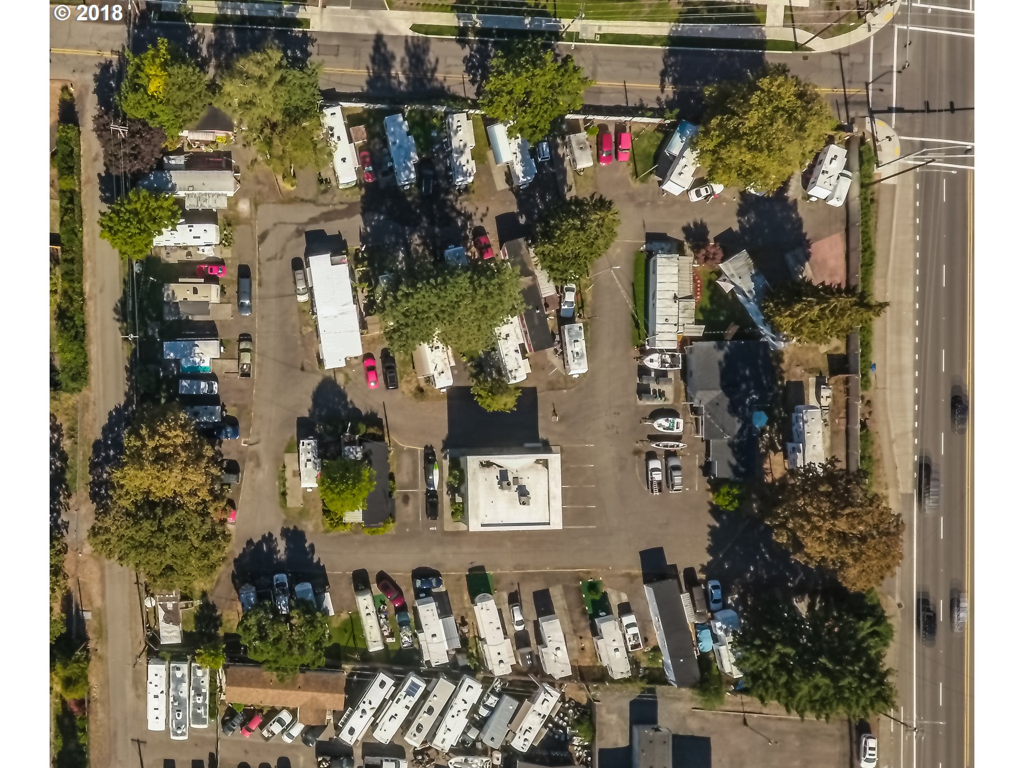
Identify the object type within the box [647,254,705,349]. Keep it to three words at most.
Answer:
house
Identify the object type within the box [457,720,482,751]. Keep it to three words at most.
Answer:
truck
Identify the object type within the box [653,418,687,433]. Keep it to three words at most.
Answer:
boat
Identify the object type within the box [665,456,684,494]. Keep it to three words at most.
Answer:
vehicle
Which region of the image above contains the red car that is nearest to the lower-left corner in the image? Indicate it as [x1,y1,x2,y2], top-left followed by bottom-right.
[239,709,266,740]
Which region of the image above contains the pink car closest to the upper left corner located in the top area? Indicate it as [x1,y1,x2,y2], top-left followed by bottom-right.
[195,265,227,278]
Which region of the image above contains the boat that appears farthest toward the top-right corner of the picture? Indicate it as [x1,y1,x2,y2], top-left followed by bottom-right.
[642,352,685,370]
